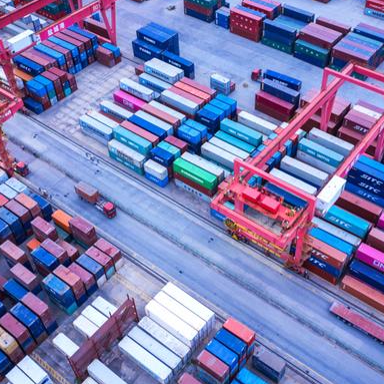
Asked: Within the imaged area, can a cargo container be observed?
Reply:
Yes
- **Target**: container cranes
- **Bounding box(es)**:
[0,0,121,111]
[208,63,384,275]
[0,91,23,180]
